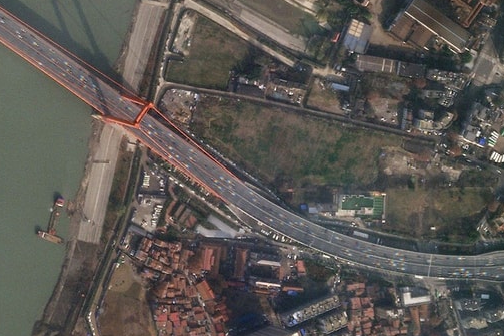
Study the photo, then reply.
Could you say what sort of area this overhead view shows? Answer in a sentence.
What you see here is a port.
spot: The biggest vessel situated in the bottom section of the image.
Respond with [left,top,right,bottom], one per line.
[38,229,64,244]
